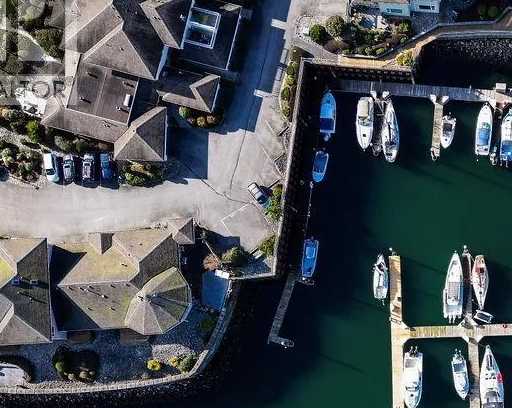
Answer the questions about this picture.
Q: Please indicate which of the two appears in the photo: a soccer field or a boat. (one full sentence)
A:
Looking from above, you can make out a boat.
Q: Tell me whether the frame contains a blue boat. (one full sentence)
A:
Yes, there's a blue boat here.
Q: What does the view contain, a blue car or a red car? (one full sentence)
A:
The one in the frame is a blue car.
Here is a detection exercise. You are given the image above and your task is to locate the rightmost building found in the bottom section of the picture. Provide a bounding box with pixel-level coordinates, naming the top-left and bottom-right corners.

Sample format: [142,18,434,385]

[51,218,203,344]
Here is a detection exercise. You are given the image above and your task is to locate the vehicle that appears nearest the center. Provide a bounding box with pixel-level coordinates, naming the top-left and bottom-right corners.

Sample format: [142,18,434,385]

[247,183,272,210]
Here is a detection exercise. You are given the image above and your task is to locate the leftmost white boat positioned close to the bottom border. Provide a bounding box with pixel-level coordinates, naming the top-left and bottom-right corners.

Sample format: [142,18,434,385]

[402,349,422,408]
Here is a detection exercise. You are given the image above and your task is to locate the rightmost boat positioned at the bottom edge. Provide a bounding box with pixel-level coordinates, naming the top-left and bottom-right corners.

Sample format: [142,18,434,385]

[478,346,504,408]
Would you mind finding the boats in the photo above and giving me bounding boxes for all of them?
[318,90,338,138]
[301,235,319,277]
[443,251,466,324]
[474,101,494,156]
[478,346,504,408]
[380,98,399,164]
[469,255,488,310]
[438,113,455,150]
[312,147,330,181]
[372,252,390,302]
[451,351,471,402]
[498,106,512,164]
[402,349,422,408]
[303,277,315,285]
[356,94,376,152]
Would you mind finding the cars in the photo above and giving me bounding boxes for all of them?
[247,183,272,210]
[100,154,118,182]
[44,153,64,183]
[82,153,100,183]
[63,154,80,183]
